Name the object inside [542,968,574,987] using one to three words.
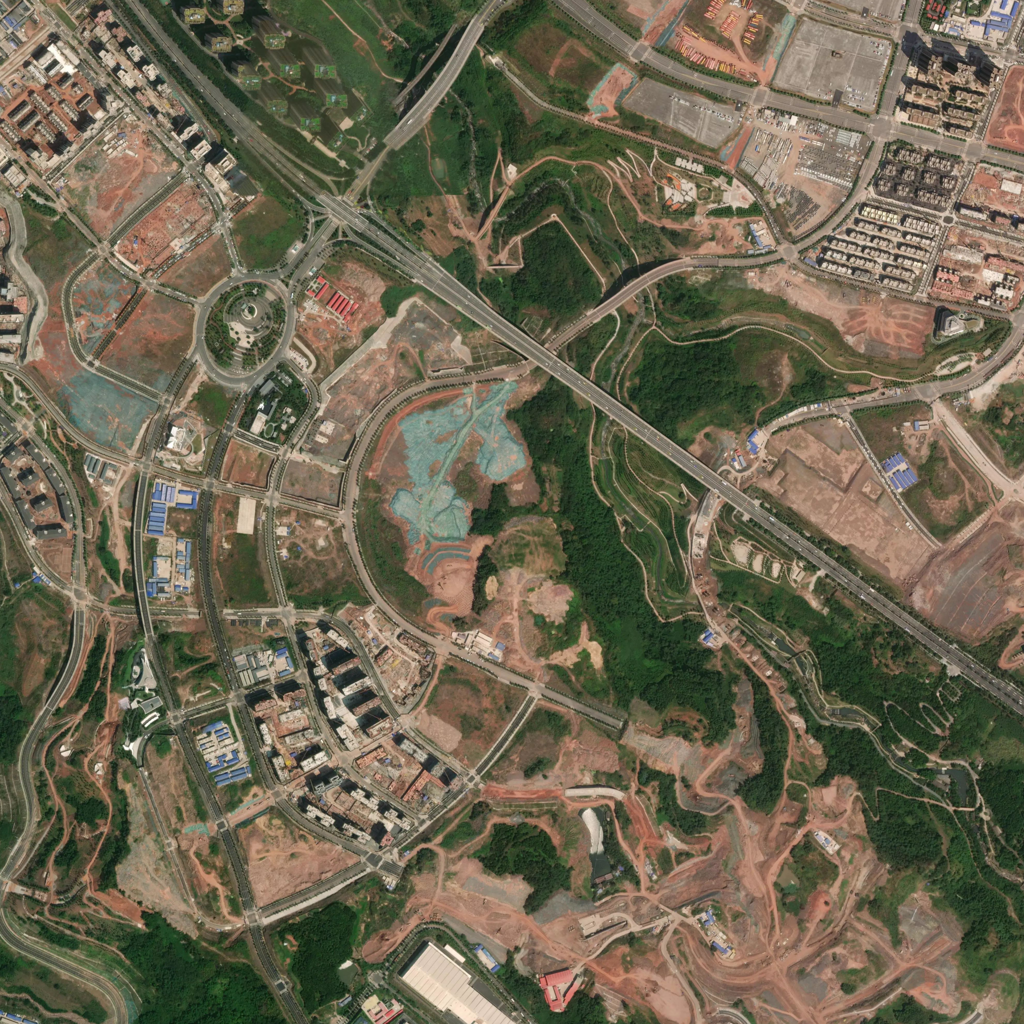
building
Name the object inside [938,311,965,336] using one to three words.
building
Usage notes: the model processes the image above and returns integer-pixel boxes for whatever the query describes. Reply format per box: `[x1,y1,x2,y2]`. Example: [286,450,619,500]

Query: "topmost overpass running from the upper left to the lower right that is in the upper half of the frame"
[314,186,370,236]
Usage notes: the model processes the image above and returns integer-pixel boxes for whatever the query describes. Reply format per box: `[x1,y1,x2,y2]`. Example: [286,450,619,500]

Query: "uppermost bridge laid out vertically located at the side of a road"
[132,465,154,633]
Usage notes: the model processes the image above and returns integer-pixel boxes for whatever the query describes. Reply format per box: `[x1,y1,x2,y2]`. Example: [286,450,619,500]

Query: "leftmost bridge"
[40,593,86,721]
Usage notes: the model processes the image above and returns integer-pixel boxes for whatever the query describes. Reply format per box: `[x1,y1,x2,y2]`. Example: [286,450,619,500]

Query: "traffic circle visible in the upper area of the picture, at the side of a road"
[195,271,296,385]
